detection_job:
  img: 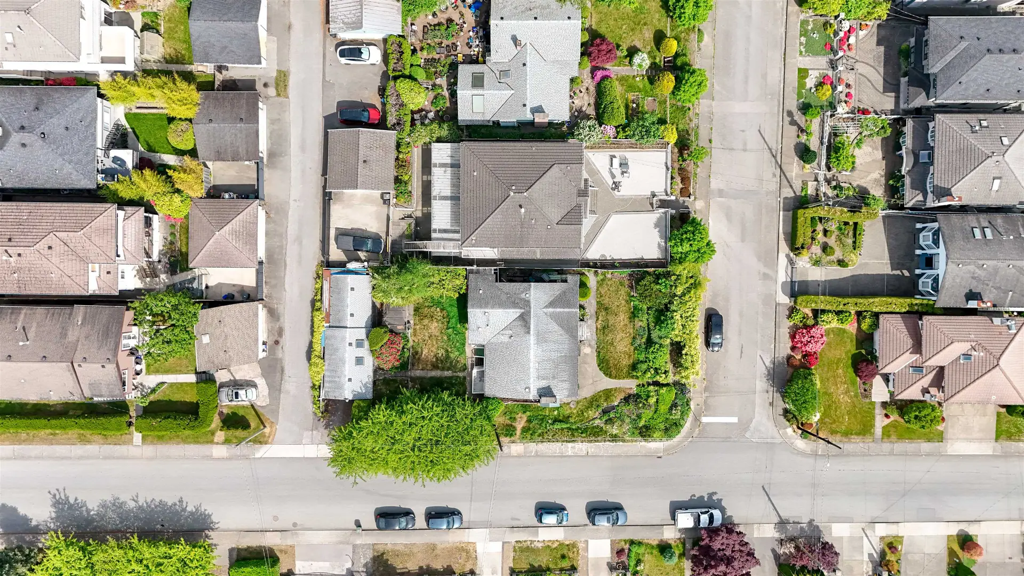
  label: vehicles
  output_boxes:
[376,510,416,531]
[704,312,725,353]
[588,505,627,527]
[219,385,259,405]
[674,506,721,530]
[425,509,463,531]
[338,104,382,127]
[336,234,384,255]
[535,505,569,526]
[335,43,381,66]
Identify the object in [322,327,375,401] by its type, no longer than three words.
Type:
building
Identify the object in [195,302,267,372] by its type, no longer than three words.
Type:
building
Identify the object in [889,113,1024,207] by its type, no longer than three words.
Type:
house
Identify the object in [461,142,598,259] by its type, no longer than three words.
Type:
house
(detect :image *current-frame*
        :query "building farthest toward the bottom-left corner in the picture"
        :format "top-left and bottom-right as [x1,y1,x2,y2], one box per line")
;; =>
[0,304,137,401]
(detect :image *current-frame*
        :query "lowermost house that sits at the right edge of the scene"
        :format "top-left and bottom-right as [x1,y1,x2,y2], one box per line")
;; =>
[869,314,1024,404]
